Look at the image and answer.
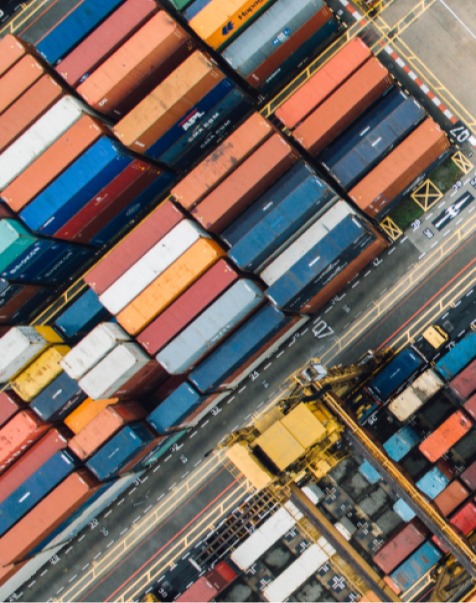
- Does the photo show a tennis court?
No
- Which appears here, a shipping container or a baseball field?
shipping container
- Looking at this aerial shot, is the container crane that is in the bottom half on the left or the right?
right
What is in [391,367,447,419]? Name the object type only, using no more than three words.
shipping container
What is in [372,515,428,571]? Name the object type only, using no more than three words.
shipping container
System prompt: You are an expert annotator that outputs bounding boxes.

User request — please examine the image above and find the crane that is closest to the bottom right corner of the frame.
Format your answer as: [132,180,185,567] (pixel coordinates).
[207,344,476,603]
